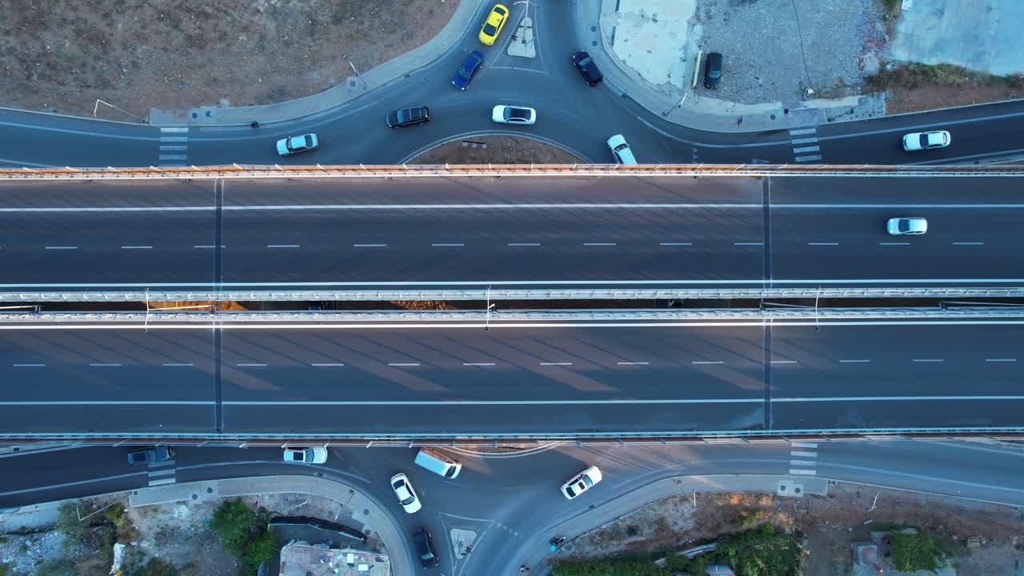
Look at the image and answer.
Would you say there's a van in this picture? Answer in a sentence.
Yes, the photo shows a van.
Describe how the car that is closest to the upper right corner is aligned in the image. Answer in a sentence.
Seen from above, the car that is closest to the upper right corner lies horizontally.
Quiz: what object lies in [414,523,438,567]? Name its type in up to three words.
car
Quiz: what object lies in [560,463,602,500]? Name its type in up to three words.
car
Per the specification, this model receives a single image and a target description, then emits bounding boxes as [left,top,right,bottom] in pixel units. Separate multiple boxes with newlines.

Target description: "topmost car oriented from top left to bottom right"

[570,50,605,91]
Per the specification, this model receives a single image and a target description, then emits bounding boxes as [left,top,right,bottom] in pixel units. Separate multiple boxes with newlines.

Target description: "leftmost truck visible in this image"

[127,443,177,465]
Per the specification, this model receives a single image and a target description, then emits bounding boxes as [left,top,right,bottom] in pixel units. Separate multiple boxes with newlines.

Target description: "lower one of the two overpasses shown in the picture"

[0,307,1024,447]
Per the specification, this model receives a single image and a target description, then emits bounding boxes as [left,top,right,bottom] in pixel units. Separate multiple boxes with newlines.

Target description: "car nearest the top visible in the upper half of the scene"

[481,3,509,48]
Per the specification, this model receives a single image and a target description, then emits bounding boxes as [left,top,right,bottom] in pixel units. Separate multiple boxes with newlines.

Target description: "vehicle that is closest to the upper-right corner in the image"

[900,131,948,152]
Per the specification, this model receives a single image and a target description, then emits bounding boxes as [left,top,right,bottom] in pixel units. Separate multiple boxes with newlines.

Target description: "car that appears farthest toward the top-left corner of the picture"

[277,133,321,157]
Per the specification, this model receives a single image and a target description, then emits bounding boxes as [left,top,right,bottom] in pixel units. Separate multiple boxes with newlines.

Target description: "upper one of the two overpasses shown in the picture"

[0,163,1024,302]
